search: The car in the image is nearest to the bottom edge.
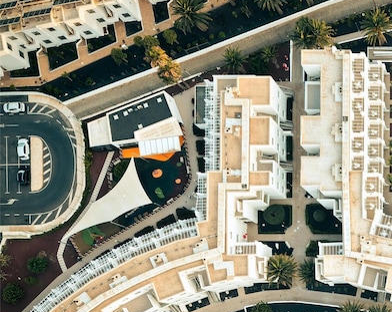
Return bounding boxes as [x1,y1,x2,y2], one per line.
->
[15,161,28,184]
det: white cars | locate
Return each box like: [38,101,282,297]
[15,137,28,159]
[1,100,23,112]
